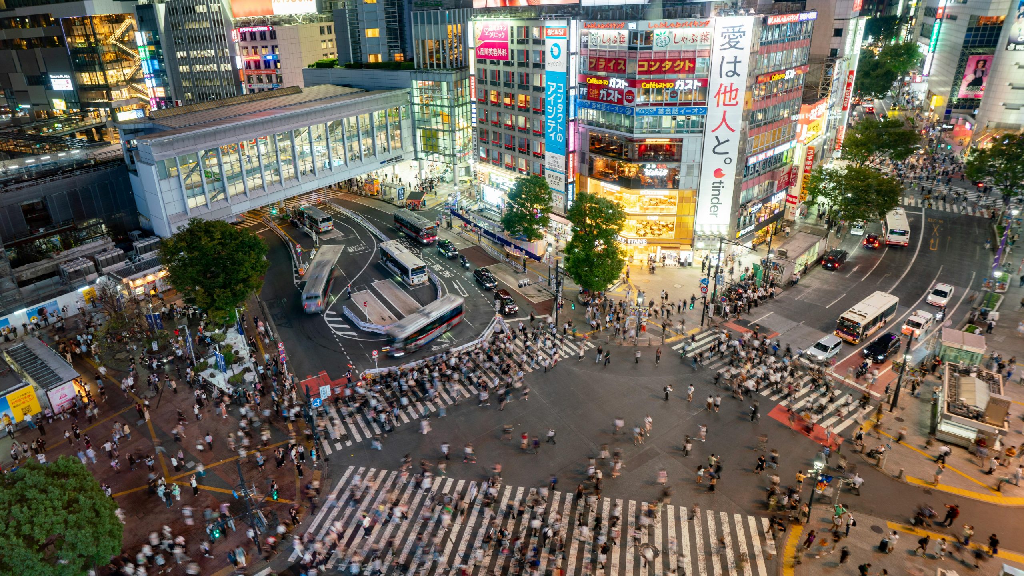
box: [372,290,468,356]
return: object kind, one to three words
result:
bus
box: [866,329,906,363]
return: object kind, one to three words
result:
car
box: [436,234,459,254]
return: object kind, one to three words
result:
car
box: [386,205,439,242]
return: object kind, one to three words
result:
bus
